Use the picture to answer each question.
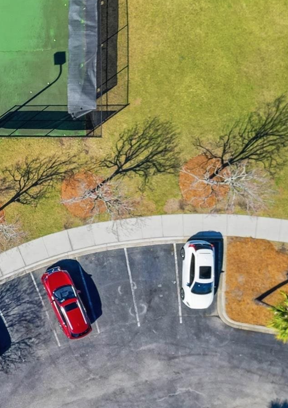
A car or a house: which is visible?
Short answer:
car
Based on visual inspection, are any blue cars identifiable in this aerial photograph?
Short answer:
No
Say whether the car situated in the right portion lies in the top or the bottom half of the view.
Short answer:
bottom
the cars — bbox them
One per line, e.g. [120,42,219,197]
[181,240,218,307]
[44,267,90,340]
